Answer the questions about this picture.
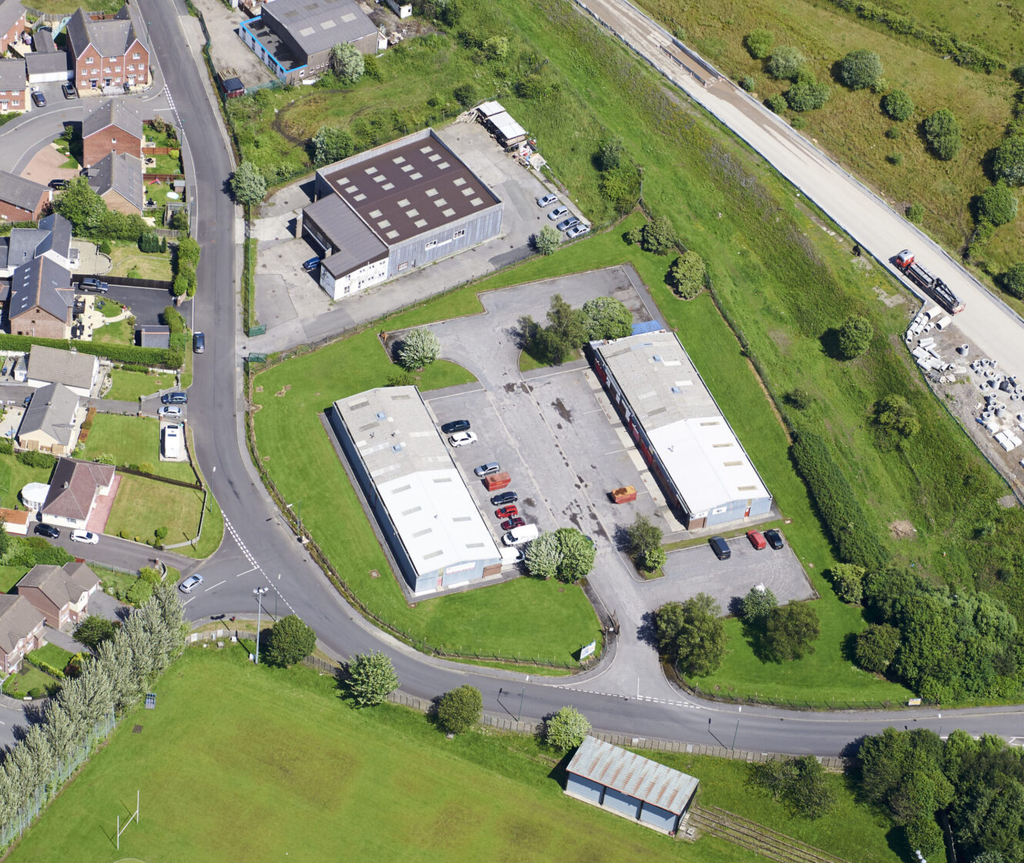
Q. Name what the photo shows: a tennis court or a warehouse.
warehouse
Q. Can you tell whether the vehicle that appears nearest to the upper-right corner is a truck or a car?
truck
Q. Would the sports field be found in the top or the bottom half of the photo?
bottom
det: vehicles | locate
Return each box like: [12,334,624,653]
[494,502,521,519]
[500,515,529,532]
[70,527,98,543]
[474,460,501,477]
[566,221,593,238]
[193,331,206,350]
[504,520,541,544]
[764,527,784,548]
[165,421,180,456]
[33,522,61,538]
[556,214,582,230]
[709,534,732,559]
[450,432,479,448]
[29,87,49,105]
[896,251,965,310]
[497,543,529,564]
[547,203,571,220]
[161,391,189,405]
[78,277,108,294]
[60,77,78,98]
[300,256,324,271]
[155,404,184,418]
[537,191,561,206]
[491,490,518,507]
[746,526,768,549]
[442,418,471,433]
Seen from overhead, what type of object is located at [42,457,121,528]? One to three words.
house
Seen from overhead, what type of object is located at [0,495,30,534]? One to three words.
building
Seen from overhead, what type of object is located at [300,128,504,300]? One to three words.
warehouse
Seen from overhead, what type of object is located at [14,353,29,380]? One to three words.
shed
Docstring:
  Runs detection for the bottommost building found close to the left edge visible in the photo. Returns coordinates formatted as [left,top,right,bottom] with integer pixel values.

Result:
[0,596,50,694]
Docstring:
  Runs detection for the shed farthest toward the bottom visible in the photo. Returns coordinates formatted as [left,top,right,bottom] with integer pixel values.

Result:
[559,736,700,837]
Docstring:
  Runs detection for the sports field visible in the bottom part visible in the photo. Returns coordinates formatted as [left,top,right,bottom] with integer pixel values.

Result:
[0,652,699,863]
